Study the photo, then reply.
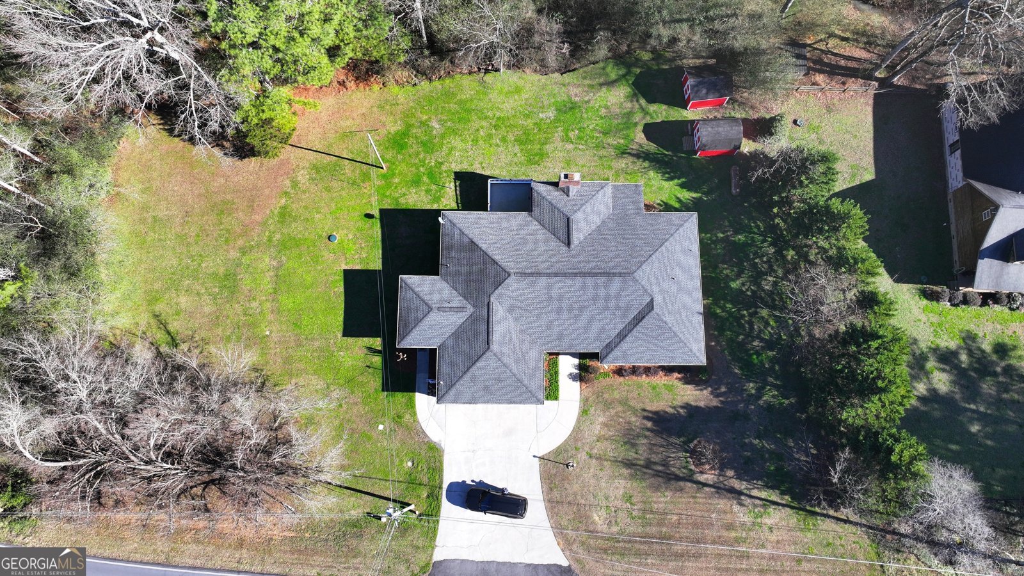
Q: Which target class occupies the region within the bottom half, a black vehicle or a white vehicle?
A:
black vehicle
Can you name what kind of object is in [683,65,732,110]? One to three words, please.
shed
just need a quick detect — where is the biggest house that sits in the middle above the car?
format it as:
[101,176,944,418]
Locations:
[394,172,708,405]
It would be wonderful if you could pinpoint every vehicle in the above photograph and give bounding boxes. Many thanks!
[466,487,529,520]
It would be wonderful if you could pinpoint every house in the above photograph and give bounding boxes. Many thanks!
[394,172,708,405]
[934,58,1024,294]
